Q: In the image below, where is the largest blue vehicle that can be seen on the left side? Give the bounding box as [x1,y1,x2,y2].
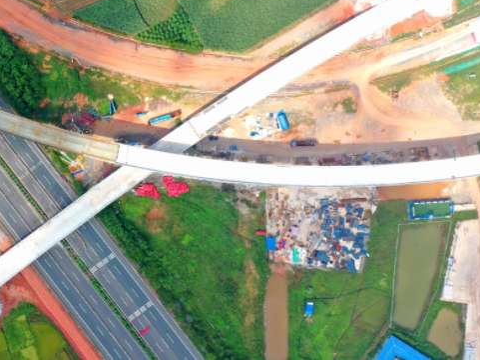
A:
[150,110,182,124]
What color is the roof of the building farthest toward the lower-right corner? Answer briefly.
blue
